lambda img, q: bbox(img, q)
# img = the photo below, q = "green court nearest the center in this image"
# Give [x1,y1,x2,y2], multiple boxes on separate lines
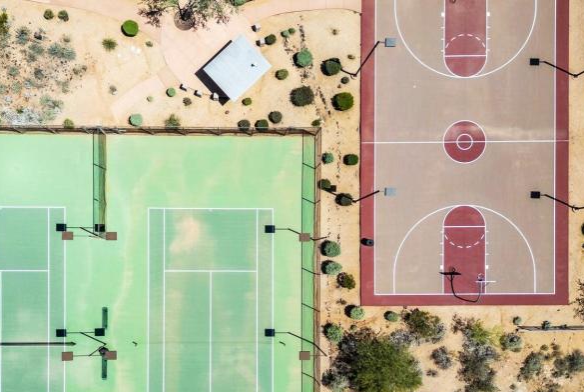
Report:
[105,134,314,392]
